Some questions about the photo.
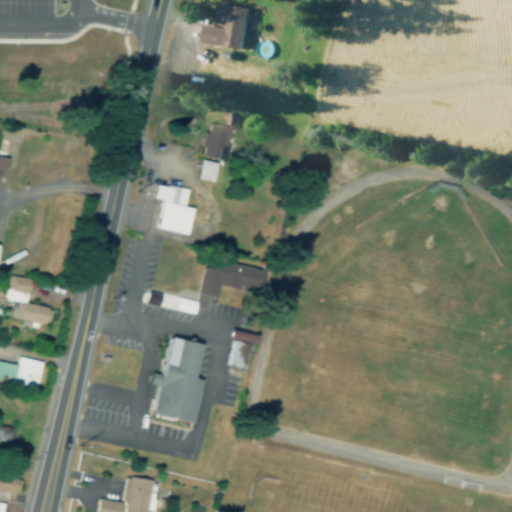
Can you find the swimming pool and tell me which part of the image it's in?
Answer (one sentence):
You can find the swimming pool in the top area of the picture.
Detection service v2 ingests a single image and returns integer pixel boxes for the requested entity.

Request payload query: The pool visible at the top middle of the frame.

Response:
[258,36,277,59]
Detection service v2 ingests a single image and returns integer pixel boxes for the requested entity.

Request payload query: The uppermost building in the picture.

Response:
[199,8,248,49]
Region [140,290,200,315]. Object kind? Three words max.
shed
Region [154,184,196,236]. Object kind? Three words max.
building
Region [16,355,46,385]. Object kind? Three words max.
building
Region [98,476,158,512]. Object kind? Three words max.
house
